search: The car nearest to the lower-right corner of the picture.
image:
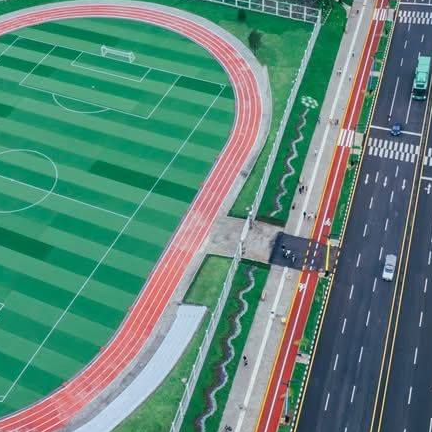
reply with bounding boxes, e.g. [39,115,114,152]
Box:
[383,251,398,279]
